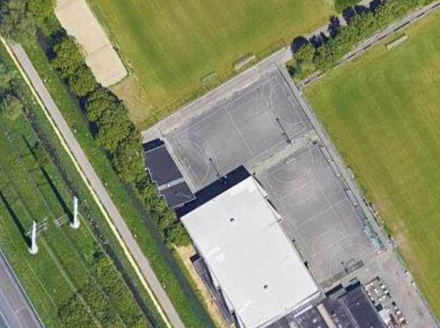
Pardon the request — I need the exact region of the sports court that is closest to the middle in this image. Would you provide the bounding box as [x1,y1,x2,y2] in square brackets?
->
[163,71,315,196]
